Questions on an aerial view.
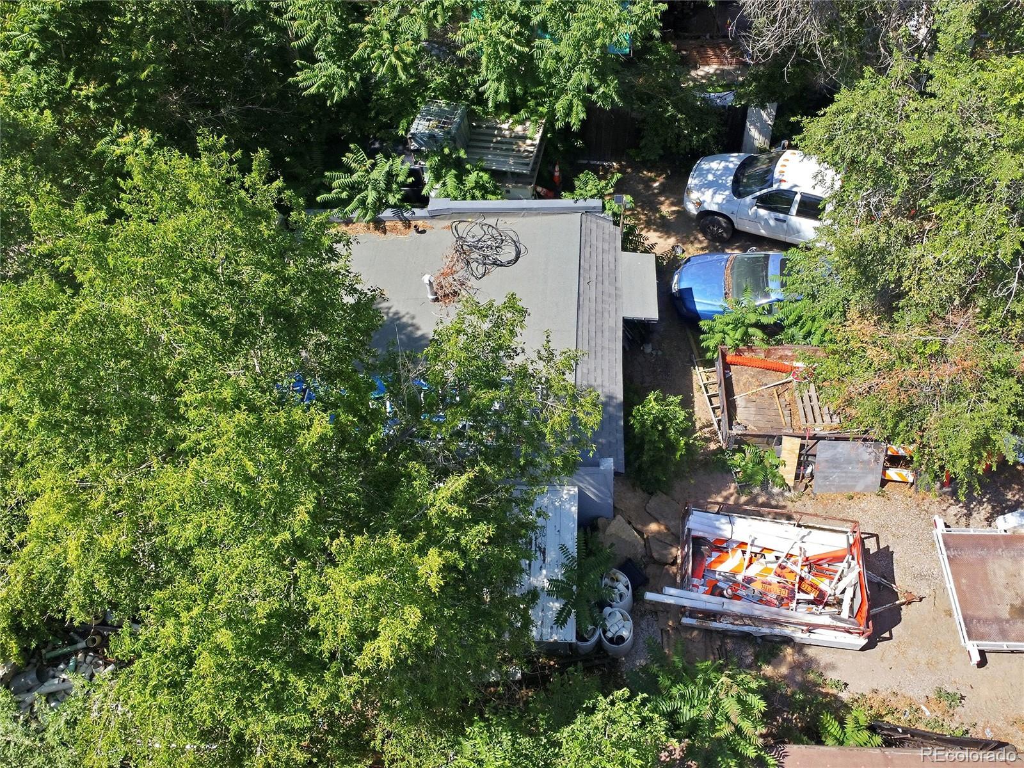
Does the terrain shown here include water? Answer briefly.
No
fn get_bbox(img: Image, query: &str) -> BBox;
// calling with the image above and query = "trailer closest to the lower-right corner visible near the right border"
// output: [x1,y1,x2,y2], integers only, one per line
[932,515,1024,665]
